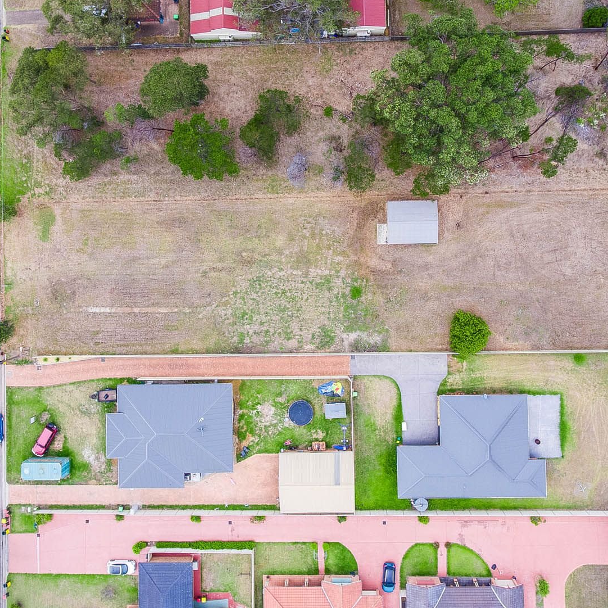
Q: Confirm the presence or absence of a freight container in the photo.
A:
Yes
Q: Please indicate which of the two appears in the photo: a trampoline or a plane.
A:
trampoline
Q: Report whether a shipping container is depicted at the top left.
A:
No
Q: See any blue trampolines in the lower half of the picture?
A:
Yes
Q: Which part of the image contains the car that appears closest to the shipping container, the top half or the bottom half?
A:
bottom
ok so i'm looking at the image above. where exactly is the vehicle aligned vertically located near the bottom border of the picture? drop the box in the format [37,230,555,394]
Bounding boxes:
[383,564,397,595]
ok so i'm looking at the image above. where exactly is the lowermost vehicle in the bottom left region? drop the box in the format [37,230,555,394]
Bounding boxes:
[104,562,134,577]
